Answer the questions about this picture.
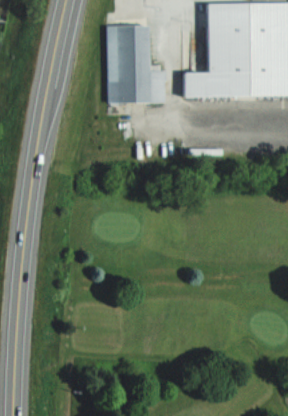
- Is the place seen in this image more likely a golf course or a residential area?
golf course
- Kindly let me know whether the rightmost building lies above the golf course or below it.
above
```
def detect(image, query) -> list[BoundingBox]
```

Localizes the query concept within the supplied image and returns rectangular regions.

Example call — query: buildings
[184,0,288,98]
[107,26,164,102]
